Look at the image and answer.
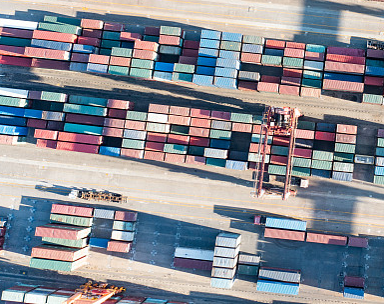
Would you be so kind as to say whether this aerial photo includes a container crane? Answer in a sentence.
Yes, a container crane is visible in the scene.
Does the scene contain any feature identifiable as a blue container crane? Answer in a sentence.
No, the picture doesn't show any blue container crane.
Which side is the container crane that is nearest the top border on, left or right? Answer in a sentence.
The container crane that is nearest the top border sits on the right side.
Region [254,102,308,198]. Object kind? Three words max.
container crane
